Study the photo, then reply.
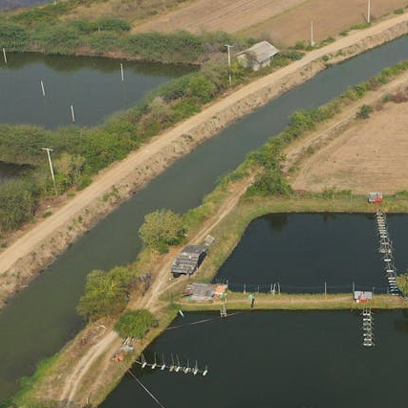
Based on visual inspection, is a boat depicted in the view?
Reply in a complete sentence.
No, no boat can be seen from above.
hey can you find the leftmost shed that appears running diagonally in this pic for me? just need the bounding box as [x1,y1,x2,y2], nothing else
[162,243,209,281]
